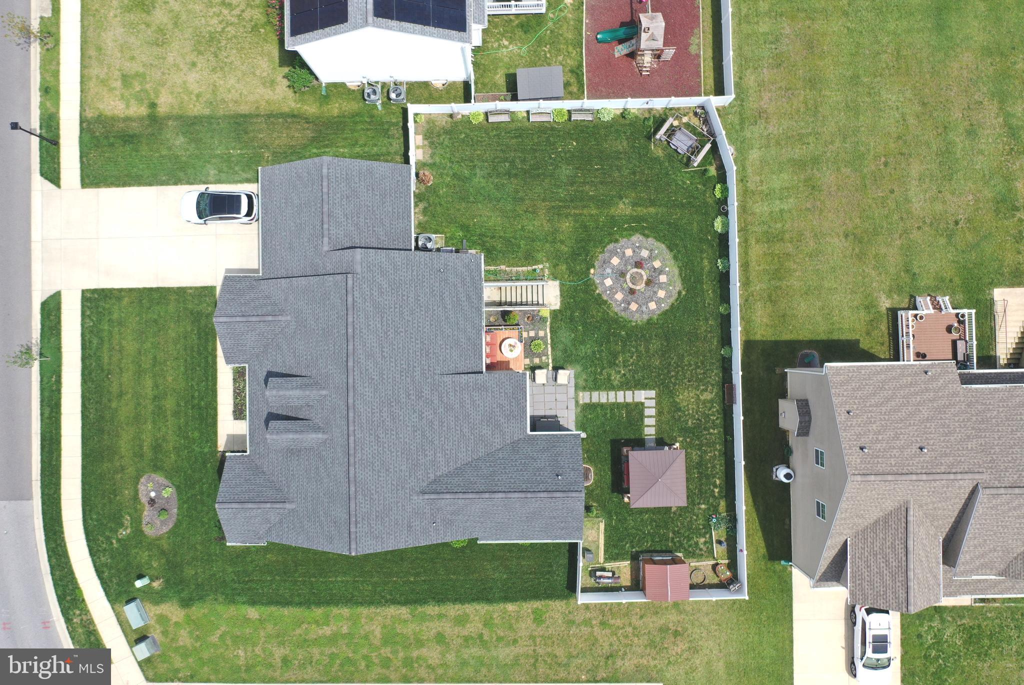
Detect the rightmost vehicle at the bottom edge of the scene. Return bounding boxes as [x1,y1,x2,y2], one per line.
[851,604,896,685]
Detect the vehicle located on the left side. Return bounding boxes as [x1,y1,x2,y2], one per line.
[180,186,257,226]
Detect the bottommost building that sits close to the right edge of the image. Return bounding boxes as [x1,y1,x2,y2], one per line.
[779,360,1024,613]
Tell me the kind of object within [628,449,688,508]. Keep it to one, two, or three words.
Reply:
gazebo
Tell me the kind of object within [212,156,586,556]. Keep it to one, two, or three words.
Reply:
house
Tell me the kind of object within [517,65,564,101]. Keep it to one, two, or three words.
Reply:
shed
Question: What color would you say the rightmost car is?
white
